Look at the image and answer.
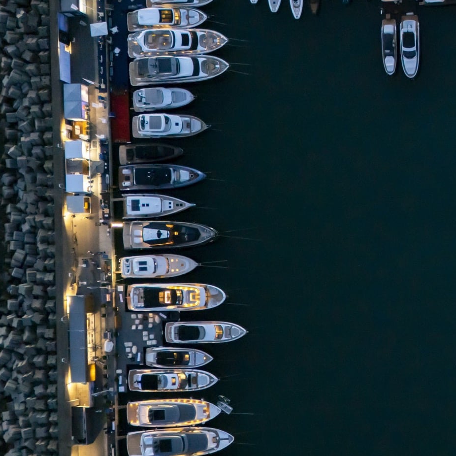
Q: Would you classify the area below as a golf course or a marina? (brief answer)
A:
marina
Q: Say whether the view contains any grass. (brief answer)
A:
No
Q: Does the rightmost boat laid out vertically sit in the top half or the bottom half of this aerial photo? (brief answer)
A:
top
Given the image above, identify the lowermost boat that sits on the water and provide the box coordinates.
[127,424,253,456]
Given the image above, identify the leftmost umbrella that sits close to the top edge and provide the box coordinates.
[90,22,107,37]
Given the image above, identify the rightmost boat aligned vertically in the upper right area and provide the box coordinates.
[399,8,419,79]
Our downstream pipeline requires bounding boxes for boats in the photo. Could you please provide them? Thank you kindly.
[109,253,205,278]
[127,28,247,58]
[128,53,246,84]
[119,142,193,165]
[289,0,304,18]
[127,368,233,391]
[127,424,253,456]
[121,194,209,217]
[381,9,398,75]
[217,402,236,414]
[399,8,419,79]
[127,283,241,312]
[127,7,217,31]
[119,164,208,192]
[132,85,201,112]
[218,395,231,406]
[419,0,456,7]
[165,321,262,343]
[124,219,227,251]
[127,396,232,426]
[145,347,220,368]
[268,0,282,13]
[132,114,216,141]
